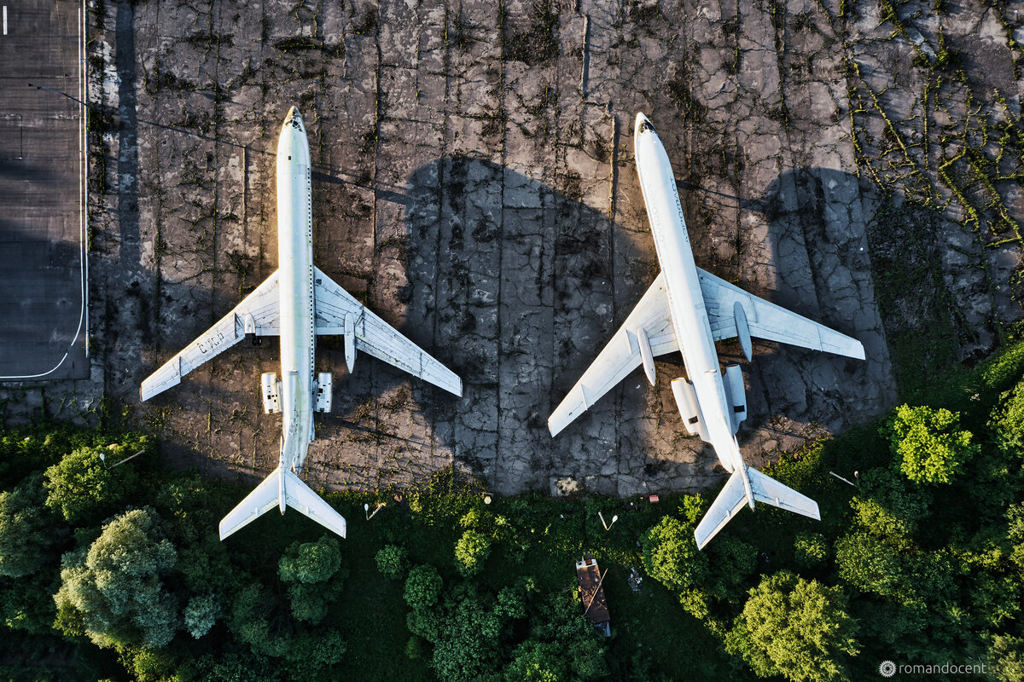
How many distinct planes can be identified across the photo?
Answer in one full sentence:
The picture shows 2 planes.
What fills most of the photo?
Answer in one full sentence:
For the most part, this view shows paved ground.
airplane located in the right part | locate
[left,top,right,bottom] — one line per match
[551,114,864,548]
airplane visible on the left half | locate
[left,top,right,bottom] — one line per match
[141,107,461,540]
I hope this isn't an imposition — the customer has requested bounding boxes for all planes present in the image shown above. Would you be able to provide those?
[551,114,864,548]
[141,107,461,540]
